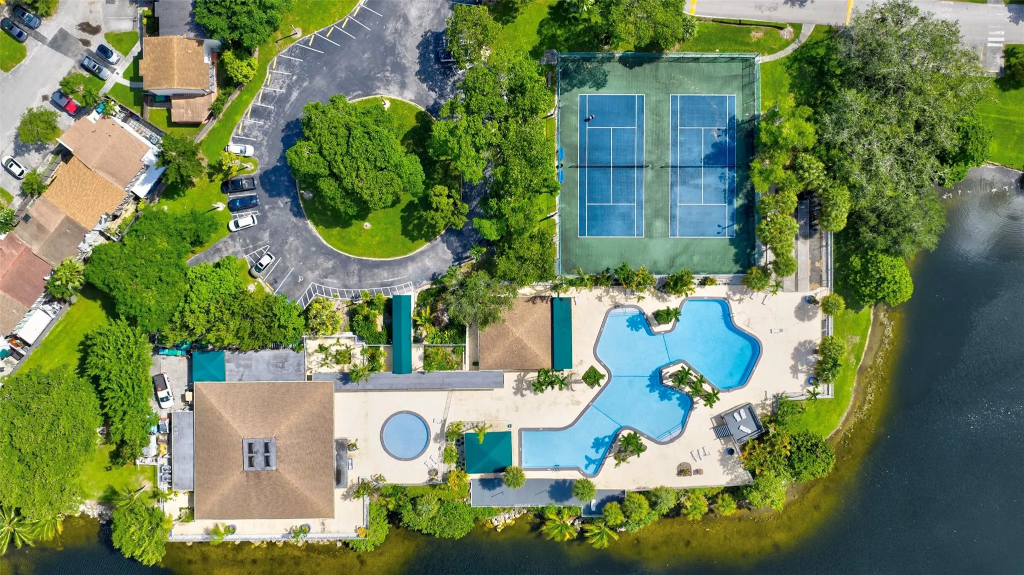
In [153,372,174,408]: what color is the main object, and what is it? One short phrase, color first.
white truck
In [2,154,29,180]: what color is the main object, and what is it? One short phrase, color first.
white car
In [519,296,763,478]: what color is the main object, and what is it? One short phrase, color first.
blue swimming pool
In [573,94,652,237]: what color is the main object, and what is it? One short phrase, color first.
blue tennis court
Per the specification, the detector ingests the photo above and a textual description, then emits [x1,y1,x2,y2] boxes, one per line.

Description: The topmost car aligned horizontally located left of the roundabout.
[226,143,255,157]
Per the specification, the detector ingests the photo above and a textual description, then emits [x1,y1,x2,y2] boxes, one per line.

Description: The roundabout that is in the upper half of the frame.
[295,95,462,259]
